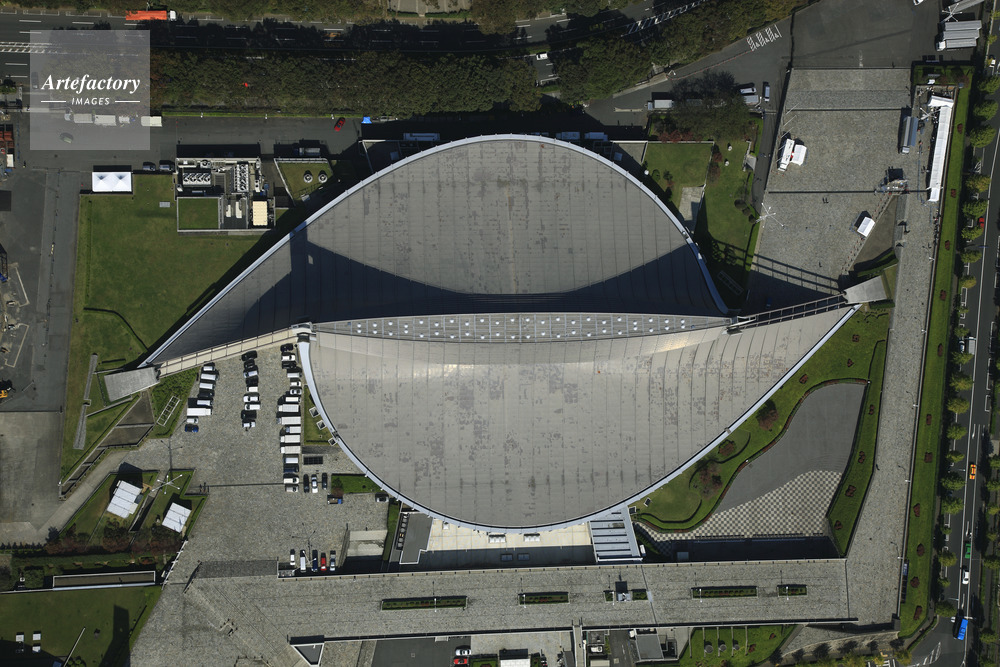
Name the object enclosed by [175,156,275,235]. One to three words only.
building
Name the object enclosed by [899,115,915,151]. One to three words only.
vehicle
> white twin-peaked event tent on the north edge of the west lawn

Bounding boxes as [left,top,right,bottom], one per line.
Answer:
[92,172,133,193]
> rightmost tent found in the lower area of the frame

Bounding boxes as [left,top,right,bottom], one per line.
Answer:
[162,502,190,532]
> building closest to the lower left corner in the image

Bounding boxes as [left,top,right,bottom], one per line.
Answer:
[53,570,156,592]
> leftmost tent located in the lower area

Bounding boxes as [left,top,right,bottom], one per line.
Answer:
[107,480,141,518]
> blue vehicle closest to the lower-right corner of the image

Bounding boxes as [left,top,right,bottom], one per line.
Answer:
[955,616,969,640]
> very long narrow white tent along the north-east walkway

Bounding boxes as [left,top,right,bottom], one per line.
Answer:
[926,105,953,202]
